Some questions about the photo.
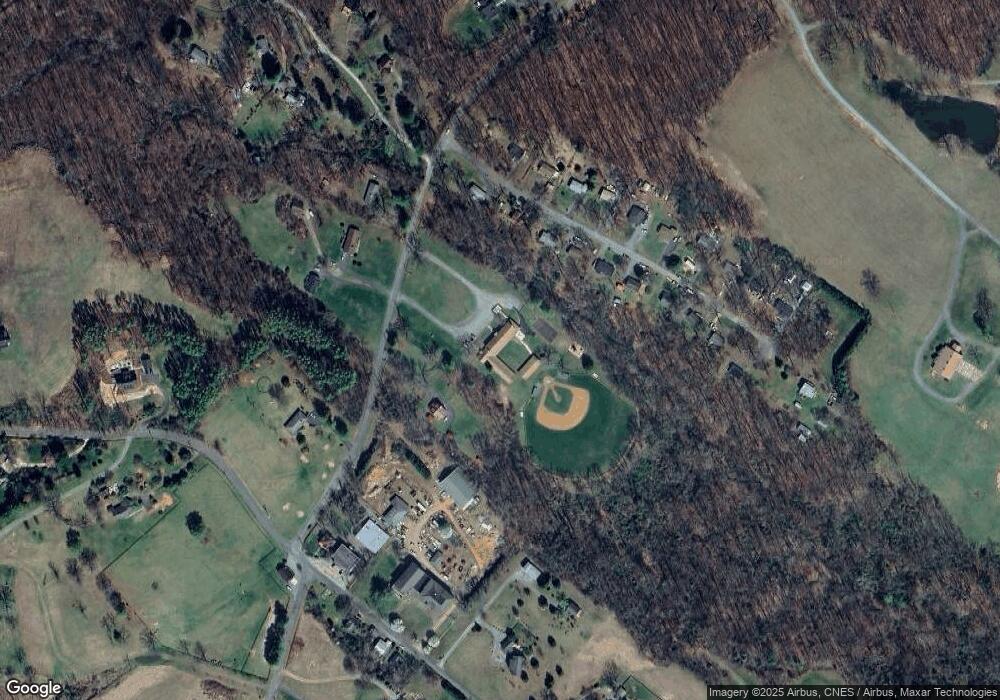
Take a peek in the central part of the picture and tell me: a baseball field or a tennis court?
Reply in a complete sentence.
Visible in the central part of the picture is a baseball field.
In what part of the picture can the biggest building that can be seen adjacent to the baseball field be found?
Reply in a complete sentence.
The biggest building that can be seen adjacent to the baseball field is in the center part of the image.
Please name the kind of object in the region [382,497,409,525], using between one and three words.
building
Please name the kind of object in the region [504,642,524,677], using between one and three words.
house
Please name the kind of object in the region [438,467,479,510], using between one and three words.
barn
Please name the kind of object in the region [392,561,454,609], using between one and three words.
building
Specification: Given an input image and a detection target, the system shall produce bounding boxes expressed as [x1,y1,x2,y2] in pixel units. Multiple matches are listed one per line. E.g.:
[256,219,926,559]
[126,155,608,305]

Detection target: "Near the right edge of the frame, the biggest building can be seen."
[932,342,963,381]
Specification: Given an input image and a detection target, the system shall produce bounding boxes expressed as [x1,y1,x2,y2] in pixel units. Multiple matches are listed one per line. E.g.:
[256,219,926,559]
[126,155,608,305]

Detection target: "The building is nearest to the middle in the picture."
[476,317,541,383]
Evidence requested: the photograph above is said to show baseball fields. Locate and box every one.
[523,373,637,475]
